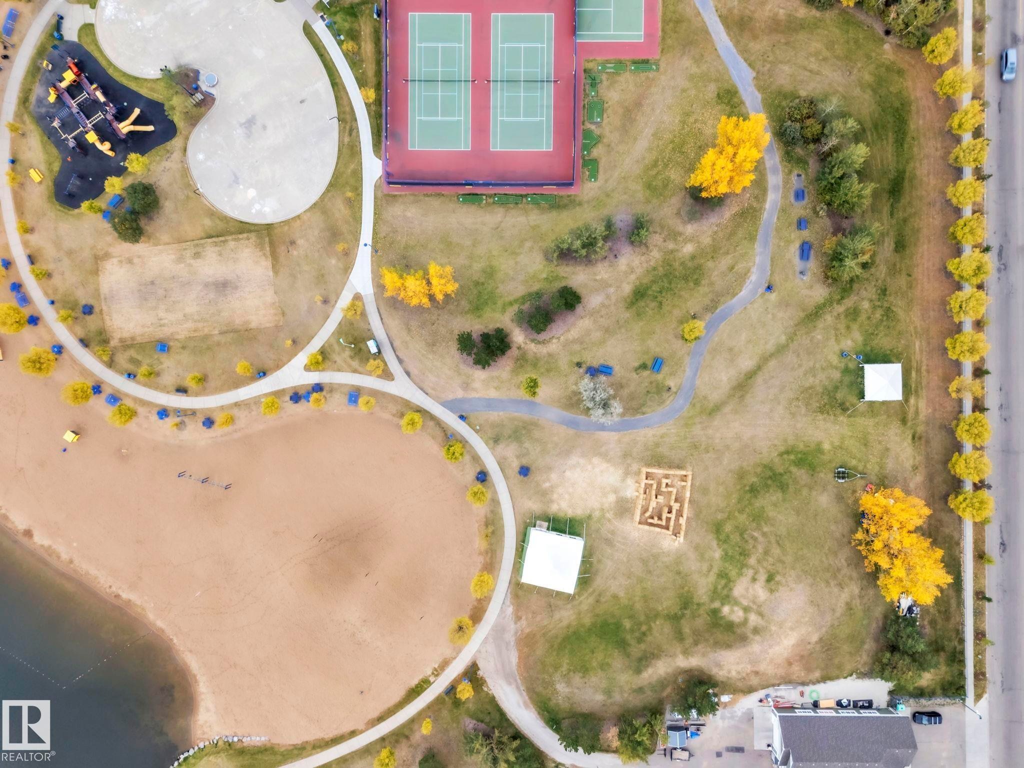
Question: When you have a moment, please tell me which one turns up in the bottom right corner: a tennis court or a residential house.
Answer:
residential house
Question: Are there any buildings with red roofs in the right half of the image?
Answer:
No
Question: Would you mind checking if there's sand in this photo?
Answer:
Yes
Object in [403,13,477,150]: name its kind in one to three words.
tennis court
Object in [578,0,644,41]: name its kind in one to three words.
tennis court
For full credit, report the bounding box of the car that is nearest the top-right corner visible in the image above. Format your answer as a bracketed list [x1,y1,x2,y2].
[999,50,1016,81]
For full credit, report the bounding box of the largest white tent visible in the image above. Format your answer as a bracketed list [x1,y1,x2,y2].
[518,512,594,601]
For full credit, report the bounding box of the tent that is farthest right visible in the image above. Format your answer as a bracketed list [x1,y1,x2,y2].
[846,351,909,413]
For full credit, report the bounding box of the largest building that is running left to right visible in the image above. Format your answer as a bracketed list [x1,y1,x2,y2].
[769,708,918,767]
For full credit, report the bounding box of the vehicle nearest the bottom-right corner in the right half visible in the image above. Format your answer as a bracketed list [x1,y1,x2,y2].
[911,710,940,725]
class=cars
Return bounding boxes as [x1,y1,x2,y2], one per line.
[911,710,940,725]
[999,50,1016,81]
